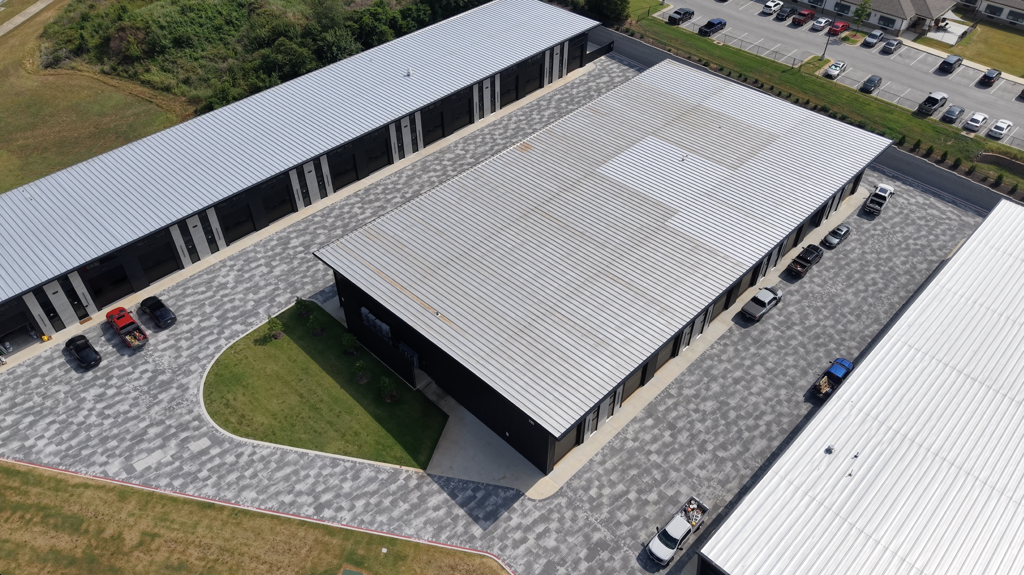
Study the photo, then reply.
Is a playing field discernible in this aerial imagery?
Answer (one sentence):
No, there appears to be no playing field in this shot.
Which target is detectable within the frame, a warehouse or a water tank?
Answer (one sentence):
The one in the frame is a warehouse.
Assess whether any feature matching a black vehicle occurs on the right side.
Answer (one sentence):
Yes, a black vehicle can be seen on the right side.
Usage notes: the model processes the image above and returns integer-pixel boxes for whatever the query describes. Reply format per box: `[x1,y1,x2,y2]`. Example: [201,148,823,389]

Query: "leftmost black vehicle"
[64,332,103,373]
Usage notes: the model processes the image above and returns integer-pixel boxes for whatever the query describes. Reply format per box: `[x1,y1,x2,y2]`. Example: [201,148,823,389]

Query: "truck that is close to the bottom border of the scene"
[643,492,712,571]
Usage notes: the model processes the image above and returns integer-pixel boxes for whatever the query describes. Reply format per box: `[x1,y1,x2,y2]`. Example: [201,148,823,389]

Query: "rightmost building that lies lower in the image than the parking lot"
[689,198,1024,575]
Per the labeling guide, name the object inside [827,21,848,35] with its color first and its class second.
red car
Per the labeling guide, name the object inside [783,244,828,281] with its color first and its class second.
black truck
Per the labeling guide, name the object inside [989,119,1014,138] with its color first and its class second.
white car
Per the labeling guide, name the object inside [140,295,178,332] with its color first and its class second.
black car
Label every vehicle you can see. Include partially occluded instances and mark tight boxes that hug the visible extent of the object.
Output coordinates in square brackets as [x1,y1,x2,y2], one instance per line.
[806,355,854,402]
[823,60,847,77]
[862,73,887,91]
[140,295,178,332]
[775,2,803,21]
[862,29,885,48]
[989,119,1014,138]
[738,283,791,328]
[881,39,903,54]
[790,7,818,26]
[812,17,833,31]
[827,21,848,35]
[915,89,950,114]
[979,67,1004,86]
[820,224,854,251]
[783,244,828,281]
[64,332,103,373]
[938,53,964,73]
[966,111,991,130]
[864,183,896,216]
[700,15,730,34]
[943,103,967,121]
[669,4,699,23]
[762,0,785,14]
[643,492,712,571]
[101,302,148,353]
